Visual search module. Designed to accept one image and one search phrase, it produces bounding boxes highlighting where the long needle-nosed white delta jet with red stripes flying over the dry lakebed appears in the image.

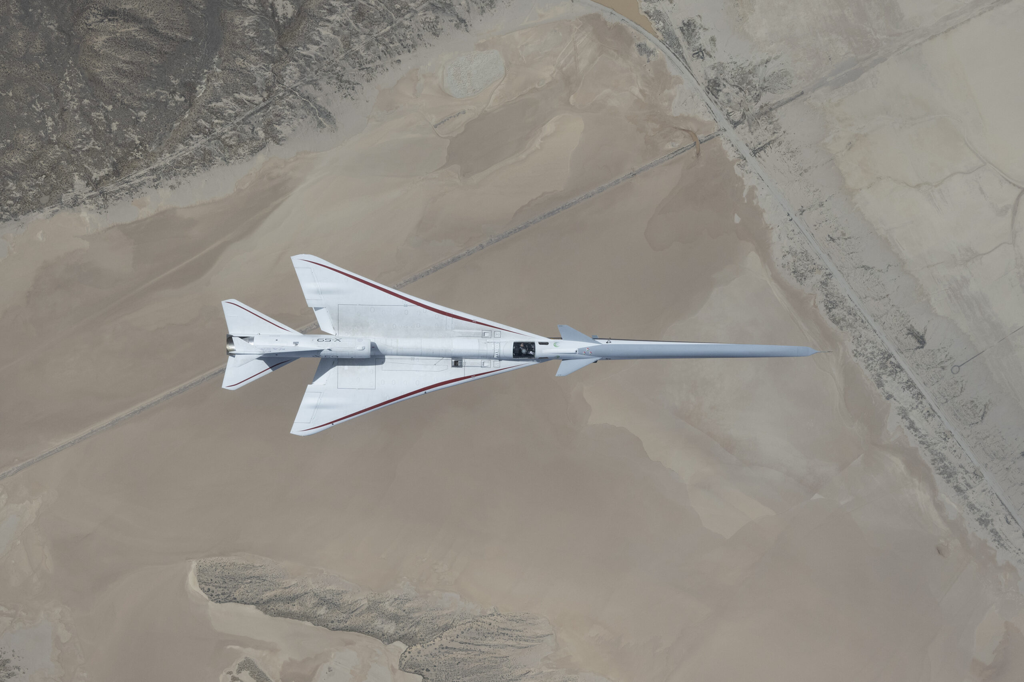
[222,254,833,436]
